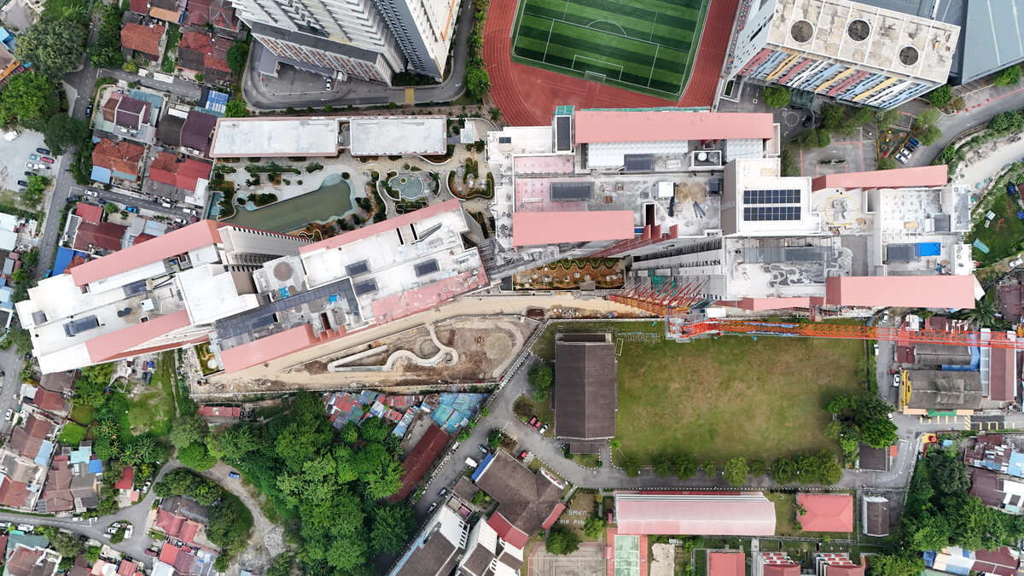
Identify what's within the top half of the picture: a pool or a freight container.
pool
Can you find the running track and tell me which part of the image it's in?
top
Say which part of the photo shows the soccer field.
top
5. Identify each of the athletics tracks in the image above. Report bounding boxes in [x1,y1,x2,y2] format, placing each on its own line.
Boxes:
[479,0,736,130]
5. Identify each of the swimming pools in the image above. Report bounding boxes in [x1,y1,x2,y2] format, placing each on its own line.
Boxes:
[224,173,354,236]
[206,191,224,220]
[234,193,251,210]
[388,173,424,201]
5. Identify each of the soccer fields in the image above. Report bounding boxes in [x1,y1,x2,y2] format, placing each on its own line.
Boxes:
[510,0,706,104]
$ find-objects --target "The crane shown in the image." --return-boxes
[601,261,1024,349]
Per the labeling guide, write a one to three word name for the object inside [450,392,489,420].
shed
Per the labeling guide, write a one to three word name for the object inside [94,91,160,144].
house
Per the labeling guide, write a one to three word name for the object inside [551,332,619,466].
building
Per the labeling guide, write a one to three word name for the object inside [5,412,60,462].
house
